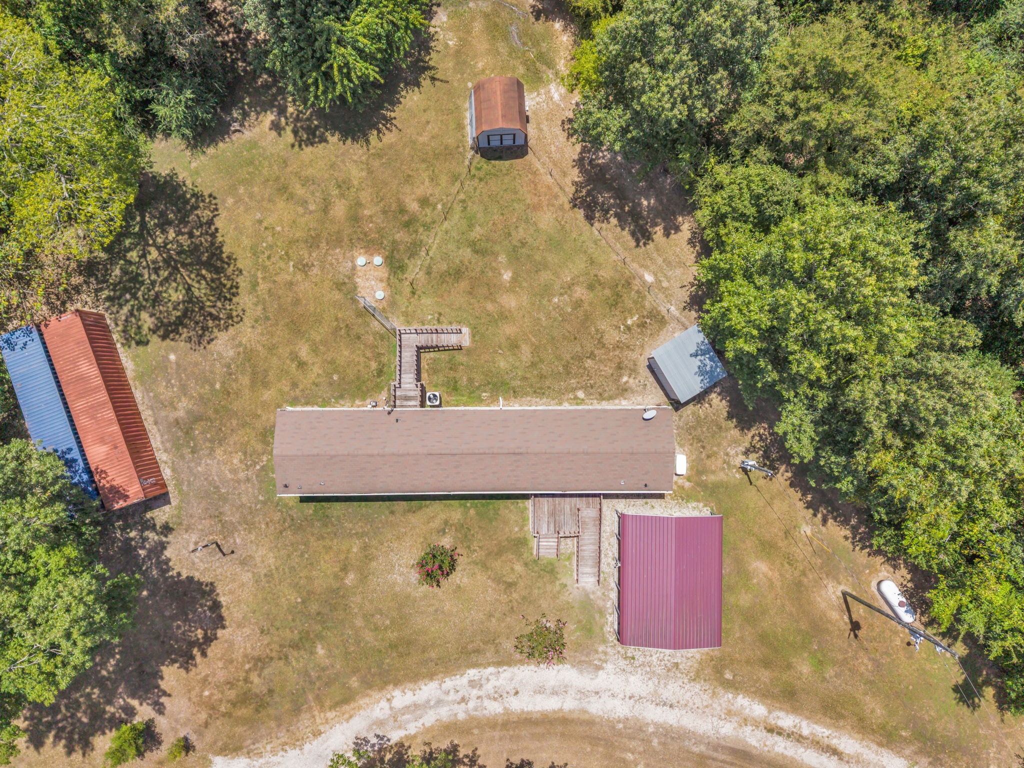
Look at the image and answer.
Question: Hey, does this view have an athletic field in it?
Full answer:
No, I can see no athletic field in this picture.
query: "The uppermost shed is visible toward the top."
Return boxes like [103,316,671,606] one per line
[476,76,527,145]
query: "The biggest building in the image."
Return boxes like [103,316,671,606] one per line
[271,406,675,498]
